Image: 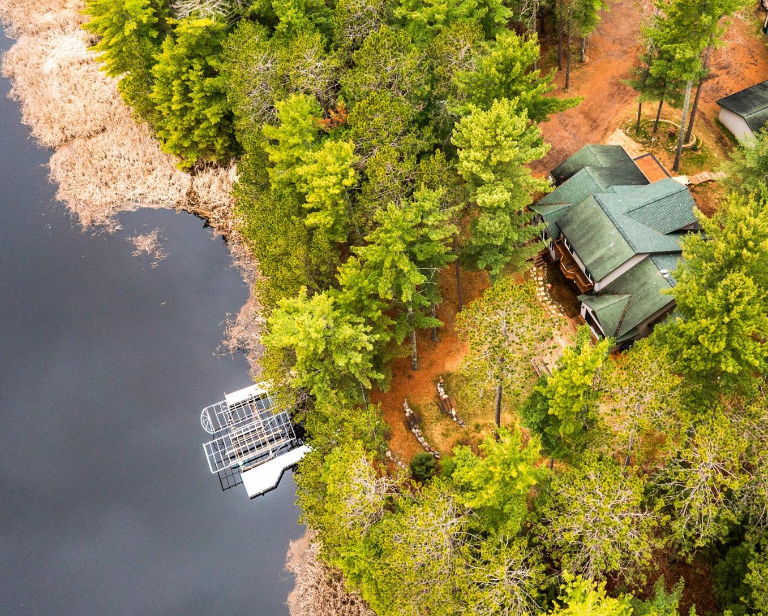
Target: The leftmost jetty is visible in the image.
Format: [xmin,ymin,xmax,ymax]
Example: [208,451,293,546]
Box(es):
[224,377,278,407]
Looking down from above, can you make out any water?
Yes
